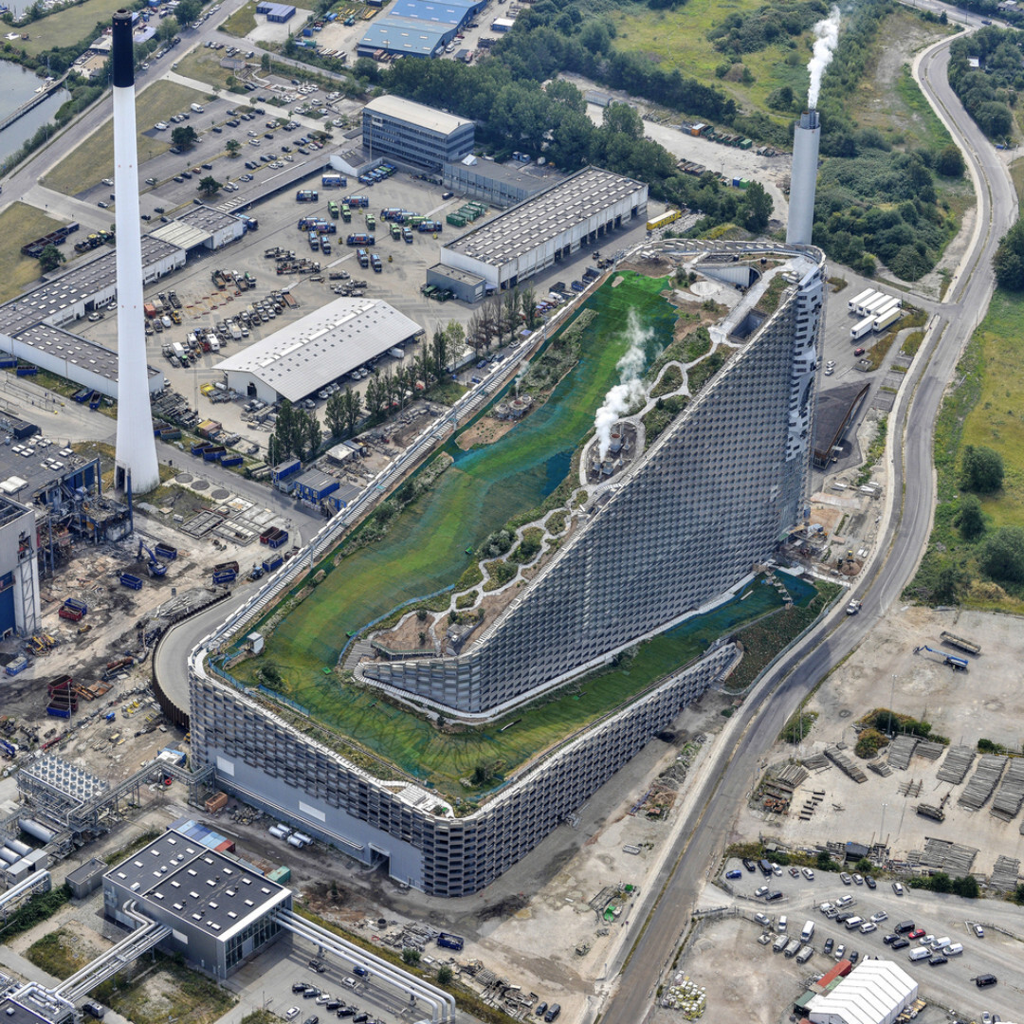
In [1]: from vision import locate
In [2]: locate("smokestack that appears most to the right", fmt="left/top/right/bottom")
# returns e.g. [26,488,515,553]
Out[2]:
[791,110,824,245]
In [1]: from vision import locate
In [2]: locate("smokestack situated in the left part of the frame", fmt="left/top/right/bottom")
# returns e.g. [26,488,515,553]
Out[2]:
[107,8,159,494]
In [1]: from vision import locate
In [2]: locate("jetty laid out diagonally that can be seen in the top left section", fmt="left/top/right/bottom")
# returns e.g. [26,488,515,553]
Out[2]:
[0,73,74,135]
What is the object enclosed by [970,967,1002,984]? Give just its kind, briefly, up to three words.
vehicle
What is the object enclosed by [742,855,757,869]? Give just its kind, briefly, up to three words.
car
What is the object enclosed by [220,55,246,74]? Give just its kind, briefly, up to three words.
building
